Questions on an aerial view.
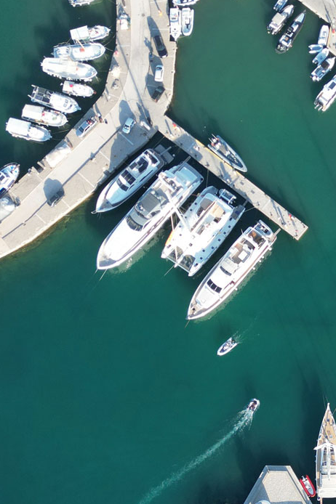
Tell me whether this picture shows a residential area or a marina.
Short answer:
marina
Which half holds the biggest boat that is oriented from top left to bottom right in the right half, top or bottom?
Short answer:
top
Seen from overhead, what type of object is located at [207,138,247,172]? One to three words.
boat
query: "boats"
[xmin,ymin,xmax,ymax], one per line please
[272,0,287,13]
[67,0,97,6]
[207,138,247,172]
[185,207,280,328]
[19,104,67,128]
[182,6,193,36]
[163,175,257,280]
[174,0,198,6]
[316,76,336,109]
[170,10,181,39]
[276,10,308,53]
[1,116,68,142]
[38,54,97,81]
[0,166,17,198]
[299,474,314,496]
[58,79,103,99]
[268,6,294,35]
[313,50,328,66]
[247,399,258,413]
[218,336,238,355]
[96,164,221,276]
[90,143,171,221]
[67,24,109,43]
[22,83,96,112]
[53,40,112,61]
[314,401,336,504]
[311,58,335,82]
[309,45,327,52]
